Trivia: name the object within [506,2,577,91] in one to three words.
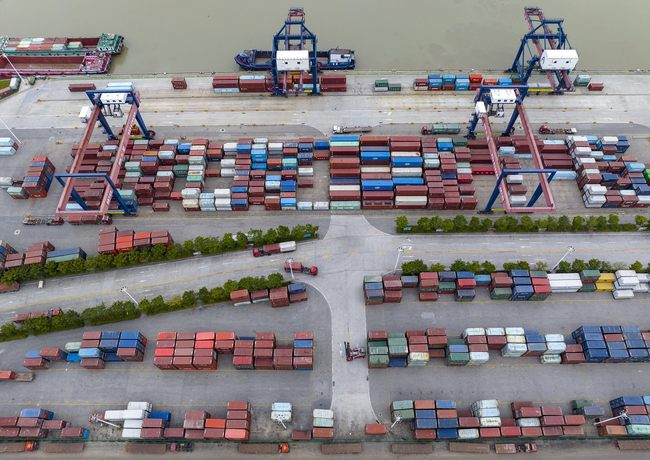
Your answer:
container crane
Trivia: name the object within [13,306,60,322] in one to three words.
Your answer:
vehicle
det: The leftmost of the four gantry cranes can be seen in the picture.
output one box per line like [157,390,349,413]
[54,91,158,214]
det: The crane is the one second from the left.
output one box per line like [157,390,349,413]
[267,6,321,95]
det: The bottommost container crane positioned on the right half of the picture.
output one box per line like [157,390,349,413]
[464,87,556,210]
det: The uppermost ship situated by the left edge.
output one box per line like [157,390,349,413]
[0,32,123,56]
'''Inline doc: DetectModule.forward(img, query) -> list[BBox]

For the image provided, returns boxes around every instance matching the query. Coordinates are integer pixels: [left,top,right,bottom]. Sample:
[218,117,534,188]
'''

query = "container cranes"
[54,91,158,214]
[506,2,577,91]
[464,87,556,210]
[267,6,321,95]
